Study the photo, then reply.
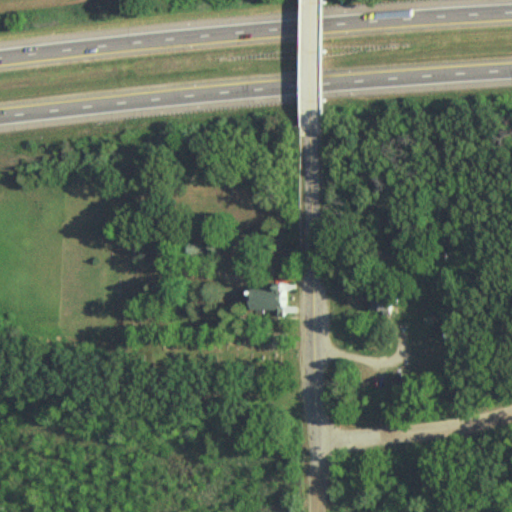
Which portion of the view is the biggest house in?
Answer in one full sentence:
The biggest house is located in the center region of the scene.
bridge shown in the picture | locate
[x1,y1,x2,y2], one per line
[298,0,325,134]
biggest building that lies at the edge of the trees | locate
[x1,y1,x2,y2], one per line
[248,286,282,310]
